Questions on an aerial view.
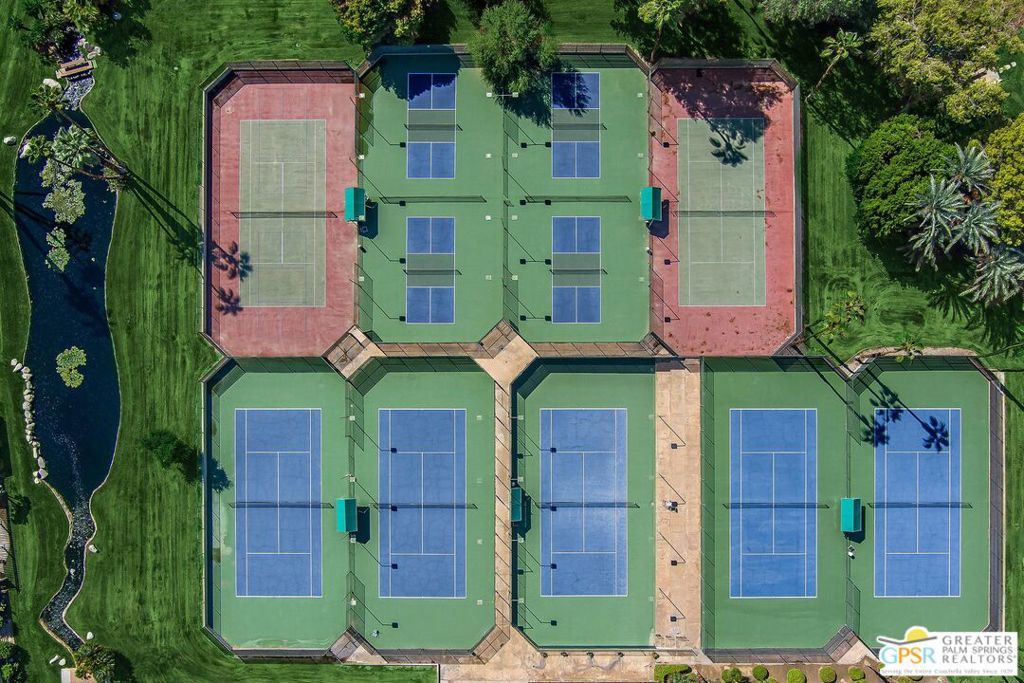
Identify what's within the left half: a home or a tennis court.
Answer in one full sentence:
There is a tennis court within the left half.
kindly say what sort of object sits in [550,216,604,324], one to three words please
sports court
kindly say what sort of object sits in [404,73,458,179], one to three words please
sports court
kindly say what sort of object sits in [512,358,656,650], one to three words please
tennis court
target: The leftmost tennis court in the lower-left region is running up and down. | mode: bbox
[206,358,351,650]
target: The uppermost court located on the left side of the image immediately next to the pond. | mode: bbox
[206,69,358,357]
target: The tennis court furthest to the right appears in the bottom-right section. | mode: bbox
[847,358,990,650]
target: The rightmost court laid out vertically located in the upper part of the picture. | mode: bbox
[652,66,795,356]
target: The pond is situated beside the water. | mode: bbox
[13,72,119,658]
